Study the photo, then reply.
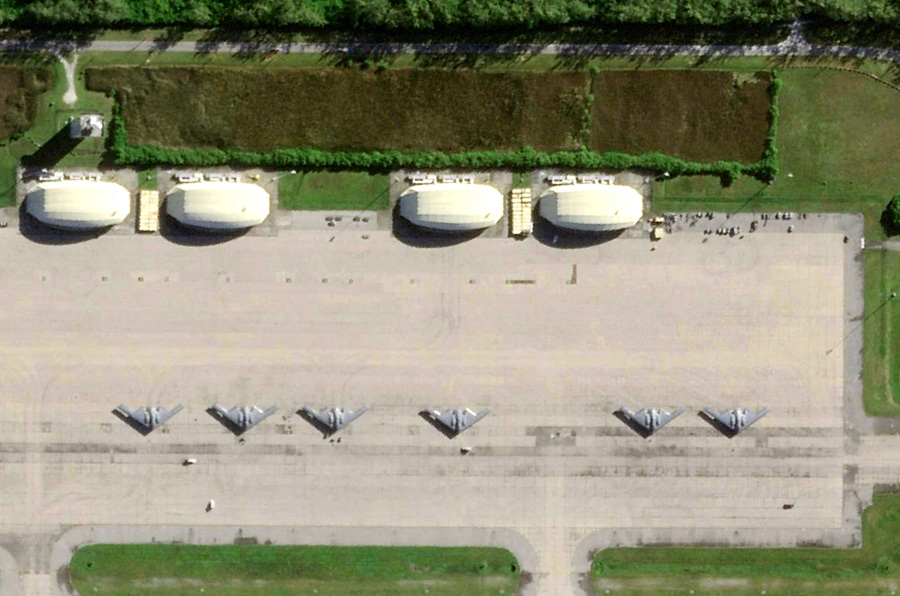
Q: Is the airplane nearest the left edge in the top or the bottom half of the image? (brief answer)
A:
bottom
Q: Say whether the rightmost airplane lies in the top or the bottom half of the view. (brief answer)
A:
bottom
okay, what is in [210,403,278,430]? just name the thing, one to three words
airplane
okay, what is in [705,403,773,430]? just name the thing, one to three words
airplane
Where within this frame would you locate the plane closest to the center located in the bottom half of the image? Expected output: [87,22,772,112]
[425,403,493,431]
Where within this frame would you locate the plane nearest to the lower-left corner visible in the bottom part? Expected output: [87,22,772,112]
[118,403,185,430]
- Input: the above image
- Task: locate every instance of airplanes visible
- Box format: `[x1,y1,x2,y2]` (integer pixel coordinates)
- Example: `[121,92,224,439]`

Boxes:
[301,403,370,431]
[118,403,185,430]
[425,403,493,431]
[705,403,773,430]
[210,403,278,430]
[620,404,687,431]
